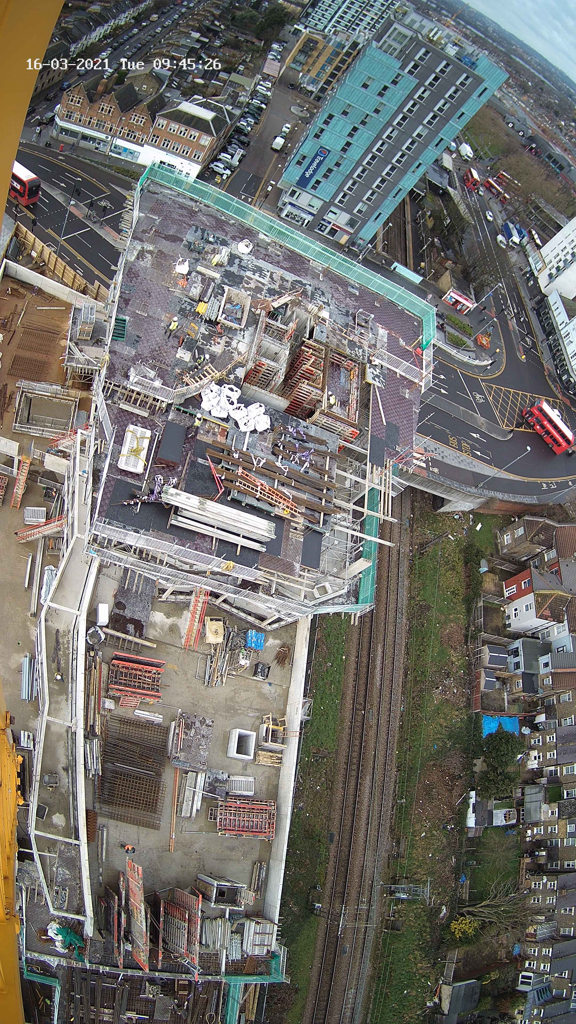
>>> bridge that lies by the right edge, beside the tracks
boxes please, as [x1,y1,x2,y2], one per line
[380,466,576,518]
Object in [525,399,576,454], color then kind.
red bus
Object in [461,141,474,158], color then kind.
white vehicle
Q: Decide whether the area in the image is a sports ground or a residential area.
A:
residential area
